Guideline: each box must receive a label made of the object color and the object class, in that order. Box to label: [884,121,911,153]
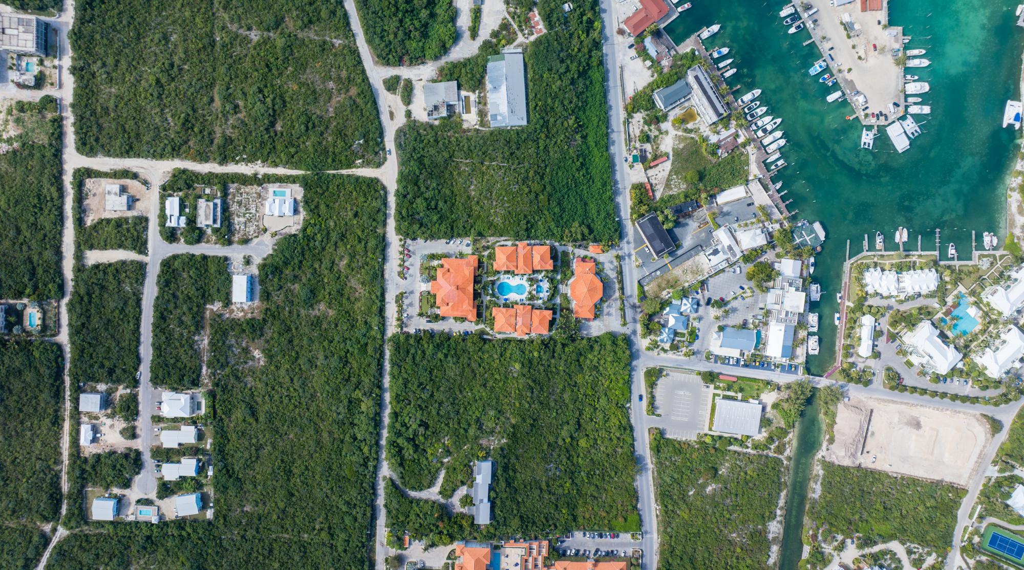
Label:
white ship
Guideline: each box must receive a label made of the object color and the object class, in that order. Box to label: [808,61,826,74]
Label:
blue boat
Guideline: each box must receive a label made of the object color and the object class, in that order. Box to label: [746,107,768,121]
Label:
white boat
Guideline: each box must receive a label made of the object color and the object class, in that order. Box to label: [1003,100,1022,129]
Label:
white boat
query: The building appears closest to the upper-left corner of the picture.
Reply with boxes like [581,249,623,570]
[0,16,46,56]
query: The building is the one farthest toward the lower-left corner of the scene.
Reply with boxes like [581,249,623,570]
[93,496,119,521]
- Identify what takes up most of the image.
trees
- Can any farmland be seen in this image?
No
